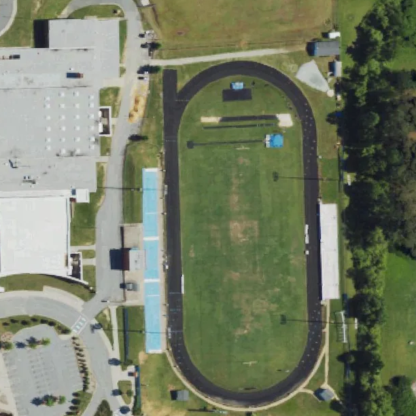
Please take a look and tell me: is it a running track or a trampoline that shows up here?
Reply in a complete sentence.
It is a running track that can be seen here.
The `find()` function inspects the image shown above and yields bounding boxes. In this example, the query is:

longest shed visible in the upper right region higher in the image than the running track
[312,40,342,56]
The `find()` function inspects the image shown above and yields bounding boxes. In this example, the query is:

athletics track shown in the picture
[162,59,324,405]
